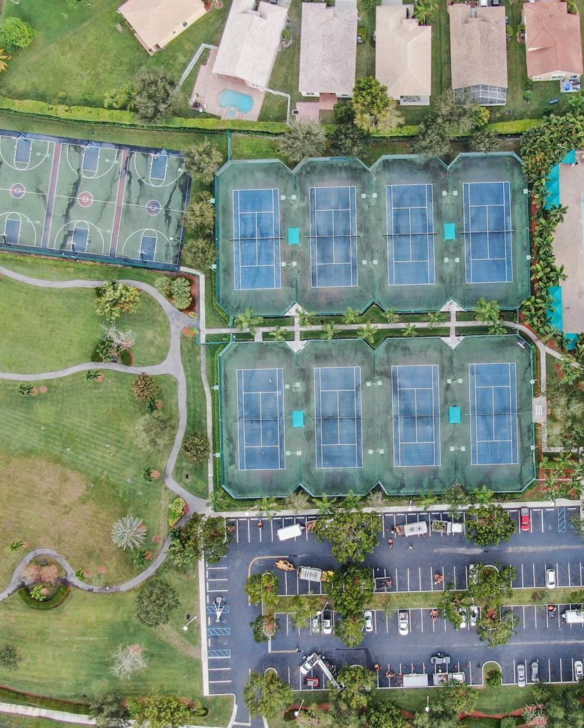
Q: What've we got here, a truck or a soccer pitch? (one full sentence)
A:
This aerial view contains a truck.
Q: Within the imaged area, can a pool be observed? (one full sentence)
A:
Yes, there's a pool down there.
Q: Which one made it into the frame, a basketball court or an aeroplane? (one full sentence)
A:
This aerial view contains a basketball court.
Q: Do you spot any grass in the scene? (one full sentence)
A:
Yes, there's grass in this view.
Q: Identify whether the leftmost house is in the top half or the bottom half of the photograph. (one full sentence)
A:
You can find the leftmost house in the top half.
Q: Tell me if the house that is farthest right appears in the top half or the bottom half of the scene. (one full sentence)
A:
You can find the house that is farthest right in the top half.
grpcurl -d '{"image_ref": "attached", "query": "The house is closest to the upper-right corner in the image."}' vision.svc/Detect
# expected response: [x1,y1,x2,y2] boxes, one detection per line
[522,0,583,82]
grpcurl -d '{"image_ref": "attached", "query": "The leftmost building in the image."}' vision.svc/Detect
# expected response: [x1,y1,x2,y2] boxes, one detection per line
[119,0,207,55]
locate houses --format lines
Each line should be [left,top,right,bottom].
[522,0,583,82]
[212,0,288,92]
[447,3,507,90]
[375,4,431,102]
[298,2,357,100]
[119,0,207,55]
